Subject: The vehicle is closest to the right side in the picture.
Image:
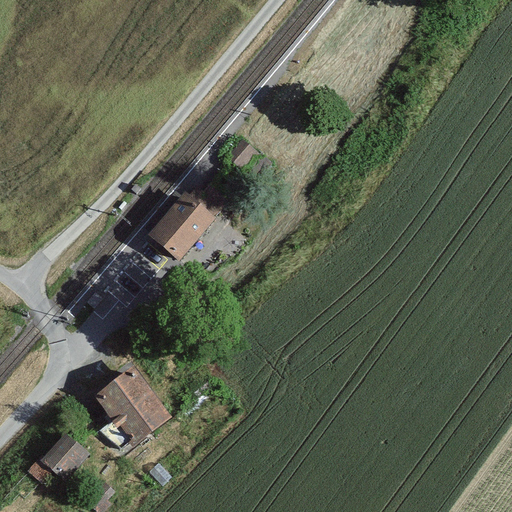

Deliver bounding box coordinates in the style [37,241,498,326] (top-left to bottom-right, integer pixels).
[143,247,164,265]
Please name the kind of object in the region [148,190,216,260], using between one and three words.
house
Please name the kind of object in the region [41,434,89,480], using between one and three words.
barn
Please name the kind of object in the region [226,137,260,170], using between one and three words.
shed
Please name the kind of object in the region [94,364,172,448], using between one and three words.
house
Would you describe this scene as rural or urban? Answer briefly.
rural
